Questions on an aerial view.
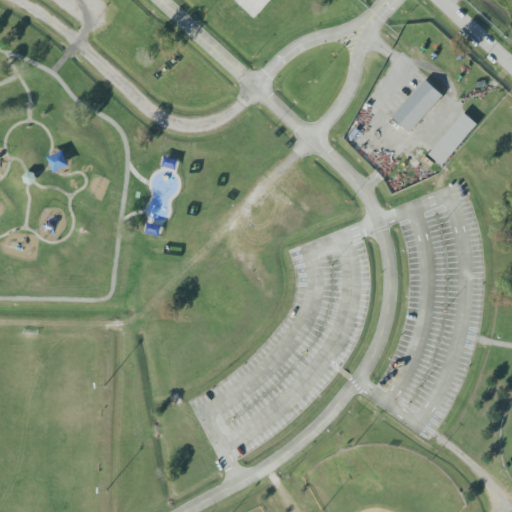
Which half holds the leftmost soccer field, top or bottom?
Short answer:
bottom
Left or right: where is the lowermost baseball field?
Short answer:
right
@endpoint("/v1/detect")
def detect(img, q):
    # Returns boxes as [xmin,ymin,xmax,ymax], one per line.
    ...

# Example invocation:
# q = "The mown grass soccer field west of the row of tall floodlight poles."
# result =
[0,330,104,512]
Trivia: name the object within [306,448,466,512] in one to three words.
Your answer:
baseball field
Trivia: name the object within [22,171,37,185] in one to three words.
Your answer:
gazebo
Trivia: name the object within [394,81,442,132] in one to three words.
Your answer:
building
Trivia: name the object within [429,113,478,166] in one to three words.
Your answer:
shed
